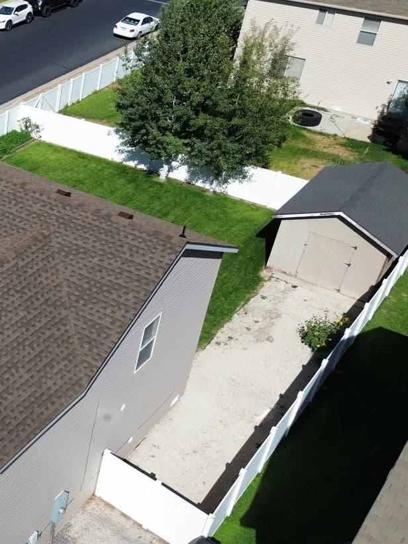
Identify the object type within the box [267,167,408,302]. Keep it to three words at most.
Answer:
shed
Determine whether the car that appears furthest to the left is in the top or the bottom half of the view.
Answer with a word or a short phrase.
top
